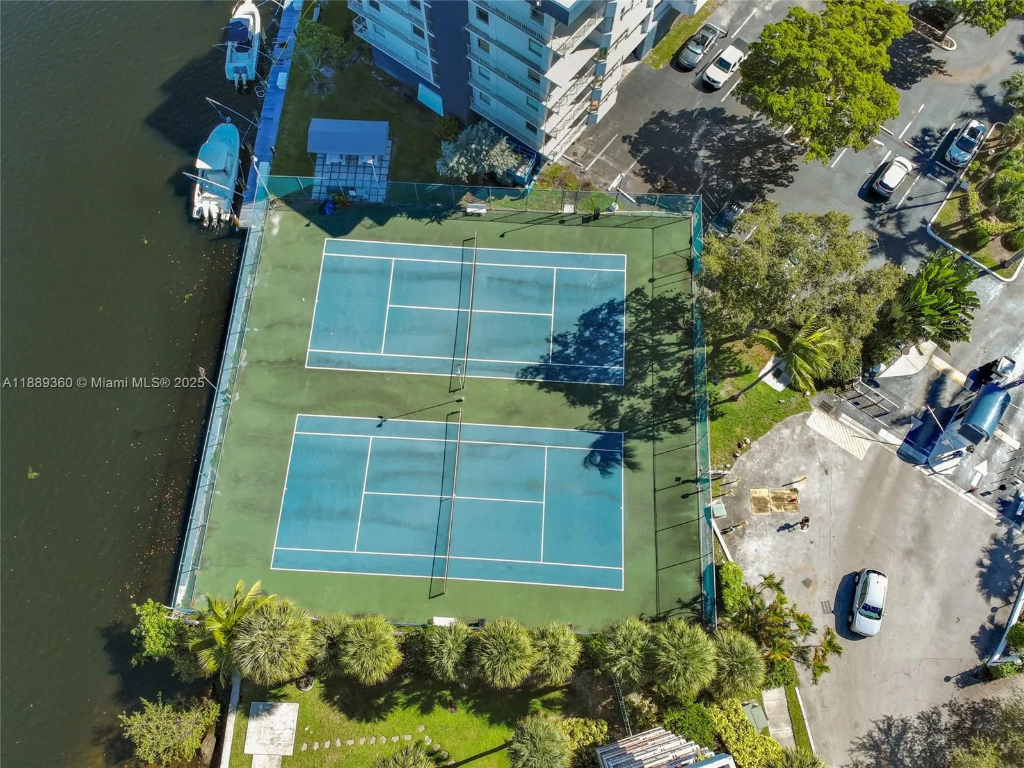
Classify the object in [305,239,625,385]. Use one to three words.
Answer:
tennis court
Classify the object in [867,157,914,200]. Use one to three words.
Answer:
car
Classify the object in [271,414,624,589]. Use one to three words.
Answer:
tennis court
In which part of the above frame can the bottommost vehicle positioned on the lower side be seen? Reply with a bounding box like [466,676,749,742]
[846,566,887,640]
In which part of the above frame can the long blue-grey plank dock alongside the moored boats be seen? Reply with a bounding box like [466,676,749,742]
[240,0,302,206]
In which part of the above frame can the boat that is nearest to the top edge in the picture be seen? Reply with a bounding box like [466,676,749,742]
[222,0,261,78]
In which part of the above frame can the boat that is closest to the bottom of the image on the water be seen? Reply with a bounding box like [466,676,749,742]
[193,120,243,223]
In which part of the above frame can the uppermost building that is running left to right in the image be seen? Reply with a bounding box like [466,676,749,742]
[335,0,705,166]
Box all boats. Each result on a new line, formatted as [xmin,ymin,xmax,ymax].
[193,120,243,223]
[222,0,261,78]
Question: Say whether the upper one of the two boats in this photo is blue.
Yes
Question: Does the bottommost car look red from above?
No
